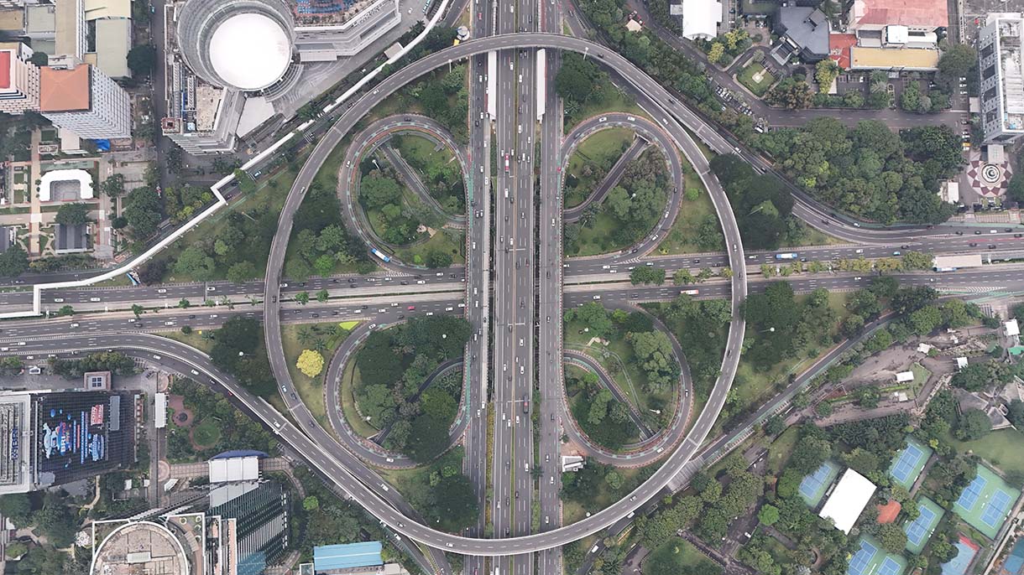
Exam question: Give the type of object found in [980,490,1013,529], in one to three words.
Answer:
tennis court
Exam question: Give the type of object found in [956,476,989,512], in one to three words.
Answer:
tennis court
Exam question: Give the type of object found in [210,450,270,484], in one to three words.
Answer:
building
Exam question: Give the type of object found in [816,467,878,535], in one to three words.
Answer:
building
